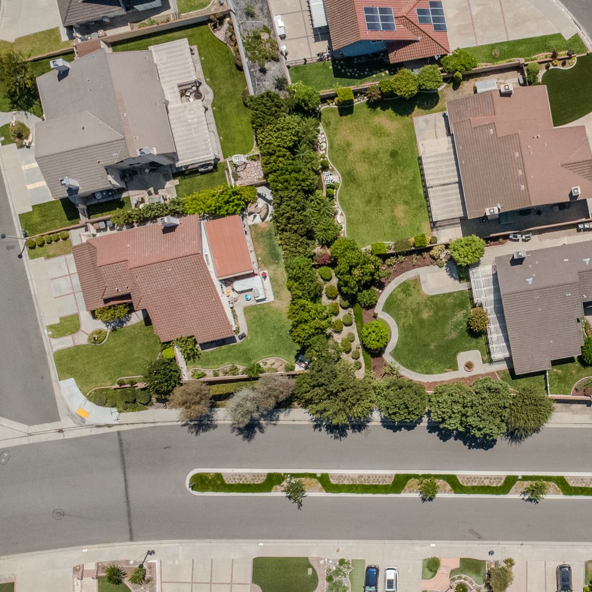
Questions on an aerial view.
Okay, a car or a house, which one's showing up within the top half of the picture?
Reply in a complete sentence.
You can see a house within the top half of the picture.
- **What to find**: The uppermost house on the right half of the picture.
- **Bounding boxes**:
[325,0,450,65]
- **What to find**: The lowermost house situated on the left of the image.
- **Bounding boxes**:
[71,214,237,344]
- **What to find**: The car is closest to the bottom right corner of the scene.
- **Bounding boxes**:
[556,563,574,592]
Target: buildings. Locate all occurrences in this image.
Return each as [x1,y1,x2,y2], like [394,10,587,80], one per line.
[71,214,237,344]
[57,0,132,28]
[446,82,592,222]
[35,47,184,199]
[325,0,450,65]
[495,240,592,375]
